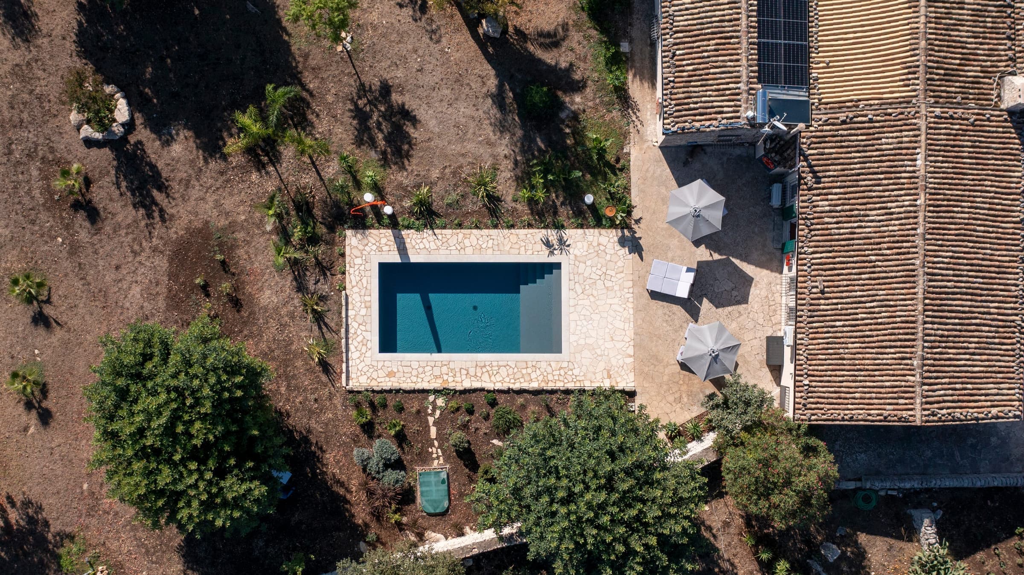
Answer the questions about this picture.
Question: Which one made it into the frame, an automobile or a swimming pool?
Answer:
swimming pool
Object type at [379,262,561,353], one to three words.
swimming pool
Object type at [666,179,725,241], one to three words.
umbrella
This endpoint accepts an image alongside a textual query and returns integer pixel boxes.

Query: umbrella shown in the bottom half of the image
[681,321,741,381]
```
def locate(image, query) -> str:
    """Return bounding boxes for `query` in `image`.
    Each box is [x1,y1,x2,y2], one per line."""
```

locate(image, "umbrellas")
[666,179,725,241]
[681,321,741,381]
